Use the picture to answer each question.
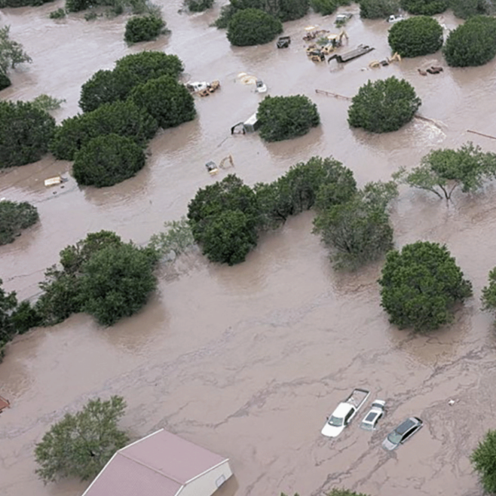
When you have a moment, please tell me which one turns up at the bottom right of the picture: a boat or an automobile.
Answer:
automobile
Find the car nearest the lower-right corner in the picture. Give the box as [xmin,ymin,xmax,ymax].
[384,414,423,450]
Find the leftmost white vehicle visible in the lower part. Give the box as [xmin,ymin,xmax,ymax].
[324,389,368,435]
